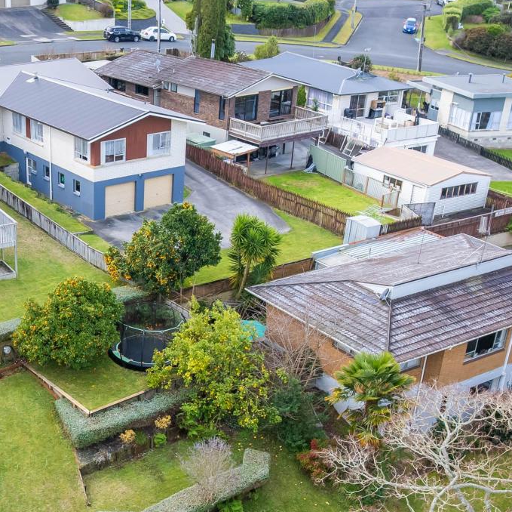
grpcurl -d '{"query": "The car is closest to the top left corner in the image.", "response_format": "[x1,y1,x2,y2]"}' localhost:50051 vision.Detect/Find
[101,24,143,42]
